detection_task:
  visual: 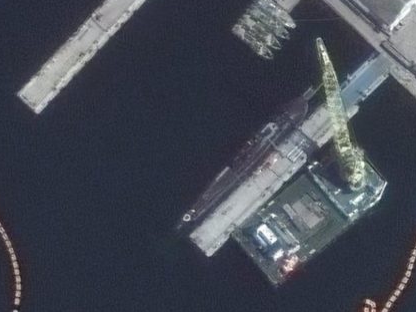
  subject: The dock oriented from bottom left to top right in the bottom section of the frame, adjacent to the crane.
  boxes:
[191,126,318,256]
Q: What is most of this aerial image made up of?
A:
water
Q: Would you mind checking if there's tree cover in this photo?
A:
No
